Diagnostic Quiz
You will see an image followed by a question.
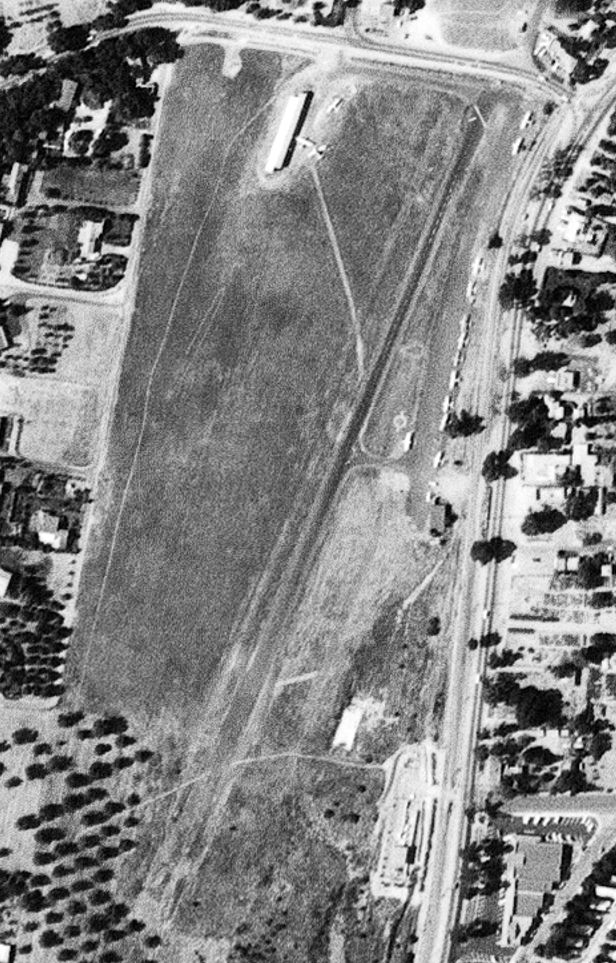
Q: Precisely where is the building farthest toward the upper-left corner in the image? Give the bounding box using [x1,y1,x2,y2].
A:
[56,79,76,110]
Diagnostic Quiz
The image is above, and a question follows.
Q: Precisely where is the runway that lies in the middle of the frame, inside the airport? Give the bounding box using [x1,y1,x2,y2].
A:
[202,102,482,831]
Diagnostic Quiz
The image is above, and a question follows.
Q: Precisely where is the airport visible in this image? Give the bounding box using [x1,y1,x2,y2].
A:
[66,43,542,921]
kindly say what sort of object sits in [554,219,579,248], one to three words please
house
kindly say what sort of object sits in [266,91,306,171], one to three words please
hangar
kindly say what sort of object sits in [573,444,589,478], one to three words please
building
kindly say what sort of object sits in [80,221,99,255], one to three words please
house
